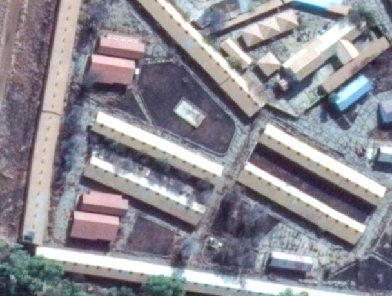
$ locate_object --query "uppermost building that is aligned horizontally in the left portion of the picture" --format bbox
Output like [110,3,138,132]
[98,32,145,58]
